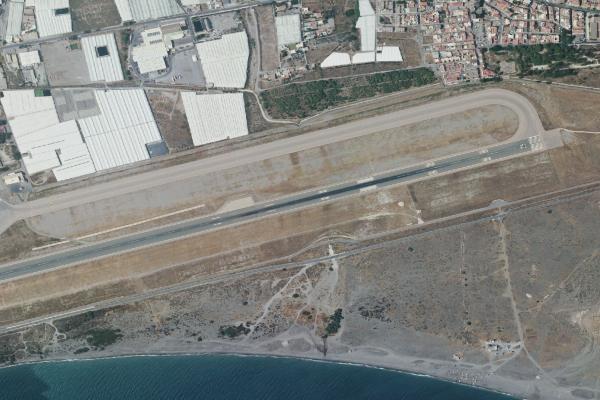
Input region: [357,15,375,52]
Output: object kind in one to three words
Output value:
greenhouse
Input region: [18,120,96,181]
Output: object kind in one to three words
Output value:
greenhouse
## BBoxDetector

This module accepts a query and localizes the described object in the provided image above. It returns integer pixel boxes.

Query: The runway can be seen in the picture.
[0,133,547,283]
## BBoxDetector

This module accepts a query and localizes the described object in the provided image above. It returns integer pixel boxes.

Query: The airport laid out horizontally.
[0,89,564,283]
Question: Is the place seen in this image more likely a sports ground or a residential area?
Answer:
residential area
